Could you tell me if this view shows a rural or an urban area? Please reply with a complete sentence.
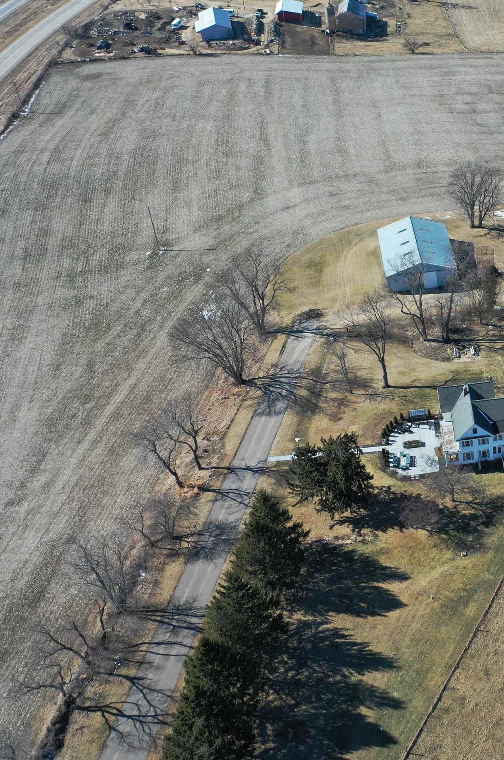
This place is rural.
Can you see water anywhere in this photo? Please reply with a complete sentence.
No, the picture contains no water.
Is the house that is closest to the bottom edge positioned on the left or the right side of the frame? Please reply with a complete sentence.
The house that is closest to the bottom edge is on the right side of the image.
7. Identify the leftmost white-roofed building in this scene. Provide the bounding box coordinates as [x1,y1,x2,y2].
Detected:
[191,9,236,42]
